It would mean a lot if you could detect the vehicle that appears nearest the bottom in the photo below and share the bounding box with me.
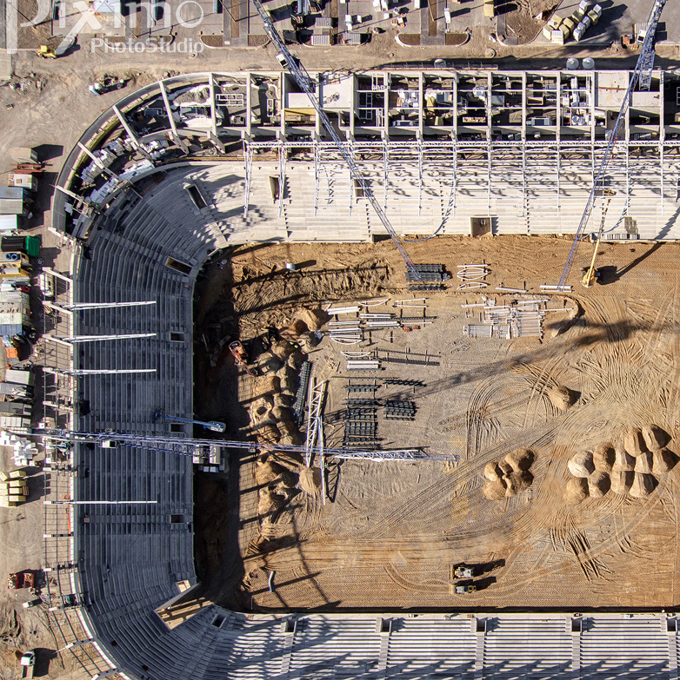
[15,653,33,680]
